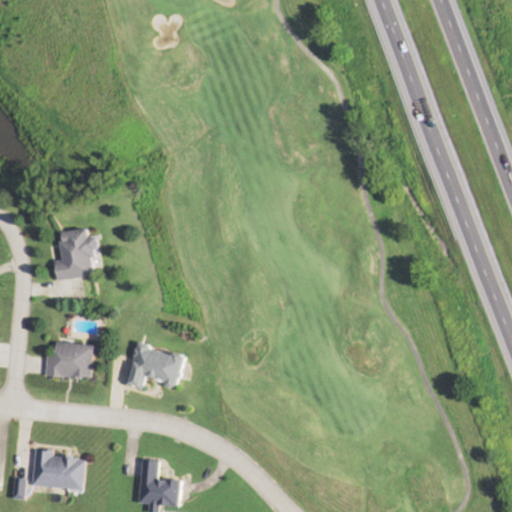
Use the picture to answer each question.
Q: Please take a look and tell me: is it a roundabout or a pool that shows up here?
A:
pool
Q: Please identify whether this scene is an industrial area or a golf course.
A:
golf course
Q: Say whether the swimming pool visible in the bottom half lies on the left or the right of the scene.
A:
left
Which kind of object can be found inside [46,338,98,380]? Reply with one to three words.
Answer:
house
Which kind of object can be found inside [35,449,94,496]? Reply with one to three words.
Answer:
house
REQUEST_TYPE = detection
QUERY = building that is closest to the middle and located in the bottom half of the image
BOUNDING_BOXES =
[128,340,190,391]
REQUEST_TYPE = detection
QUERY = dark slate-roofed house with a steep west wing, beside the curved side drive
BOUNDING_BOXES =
[139,458,184,512]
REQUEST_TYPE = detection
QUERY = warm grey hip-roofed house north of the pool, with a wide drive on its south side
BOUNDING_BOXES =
[56,226,104,280]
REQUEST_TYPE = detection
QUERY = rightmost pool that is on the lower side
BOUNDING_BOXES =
[66,315,106,341]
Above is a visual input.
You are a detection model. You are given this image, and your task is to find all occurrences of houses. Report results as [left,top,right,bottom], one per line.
[46,338,98,380]
[128,340,190,391]
[139,458,184,512]
[35,449,94,496]
[56,226,104,280]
